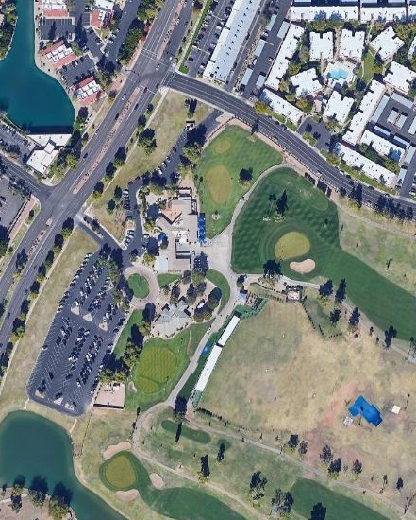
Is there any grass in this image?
Yes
